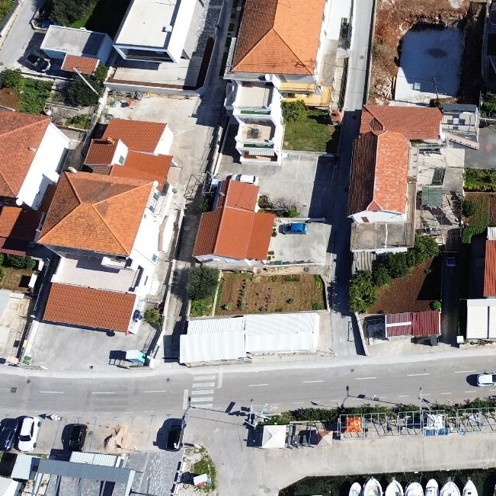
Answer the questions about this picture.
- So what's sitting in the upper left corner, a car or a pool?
car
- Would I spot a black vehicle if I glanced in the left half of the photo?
Yes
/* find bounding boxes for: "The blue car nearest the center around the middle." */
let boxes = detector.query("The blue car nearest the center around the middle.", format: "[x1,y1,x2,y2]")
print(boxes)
[282,219,307,233]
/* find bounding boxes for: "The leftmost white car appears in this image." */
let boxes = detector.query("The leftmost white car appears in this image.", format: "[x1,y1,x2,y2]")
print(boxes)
[14,416,40,450]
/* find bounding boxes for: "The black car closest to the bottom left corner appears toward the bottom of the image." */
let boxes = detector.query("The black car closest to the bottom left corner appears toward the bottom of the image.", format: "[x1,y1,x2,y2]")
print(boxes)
[0,419,20,450]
